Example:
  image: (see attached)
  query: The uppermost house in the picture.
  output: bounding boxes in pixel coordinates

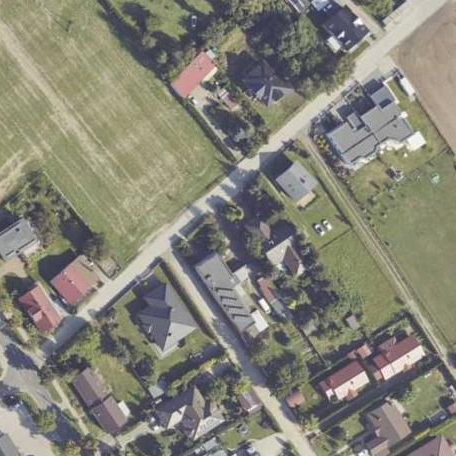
[311,0,371,52]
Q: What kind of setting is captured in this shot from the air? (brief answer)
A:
residential area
